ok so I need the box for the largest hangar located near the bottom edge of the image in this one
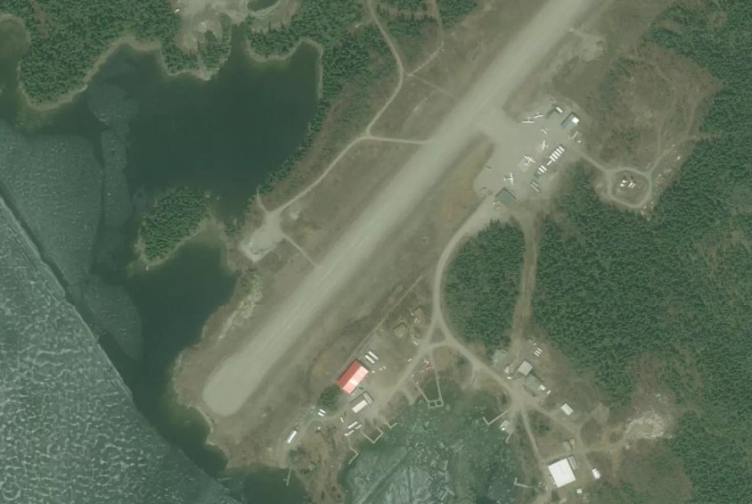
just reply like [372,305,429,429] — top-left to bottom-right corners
[548,458,576,488]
